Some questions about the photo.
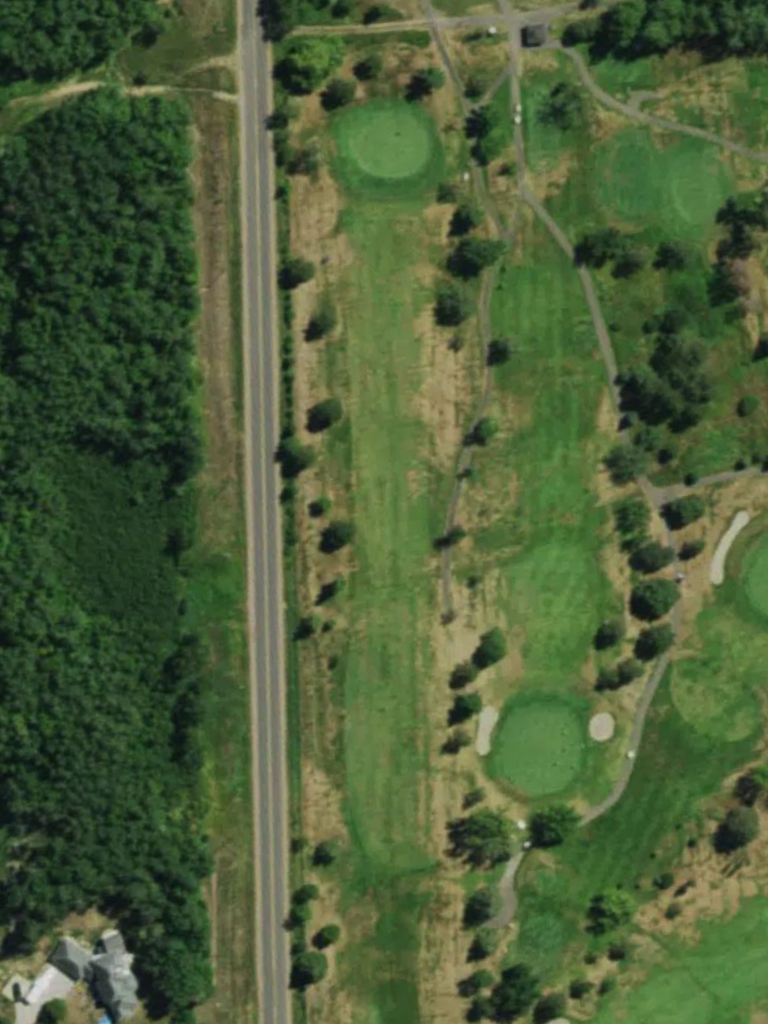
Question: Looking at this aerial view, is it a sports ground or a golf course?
golf course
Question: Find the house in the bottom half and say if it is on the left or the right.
left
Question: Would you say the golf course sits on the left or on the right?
right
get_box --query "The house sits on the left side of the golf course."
[45,927,144,1024]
